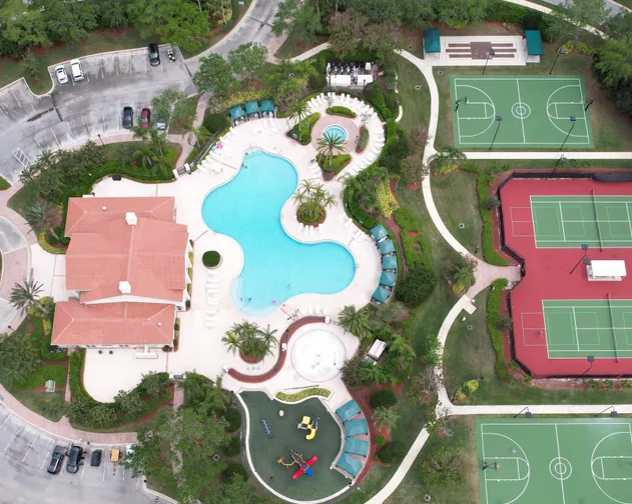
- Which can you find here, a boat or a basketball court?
basketball court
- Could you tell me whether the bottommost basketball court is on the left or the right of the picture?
right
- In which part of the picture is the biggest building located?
left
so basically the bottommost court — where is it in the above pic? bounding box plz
[476,418,632,504]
